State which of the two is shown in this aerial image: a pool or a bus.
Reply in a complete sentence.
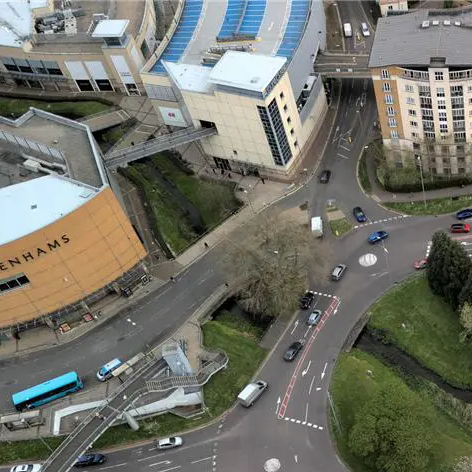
I can see a bus in this picture.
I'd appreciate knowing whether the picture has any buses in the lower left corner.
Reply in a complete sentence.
Yes, there is a bus in the lower left corner.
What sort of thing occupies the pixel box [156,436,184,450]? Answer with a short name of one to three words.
car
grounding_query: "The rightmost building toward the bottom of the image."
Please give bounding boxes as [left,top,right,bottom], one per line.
[159,335,200,381]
